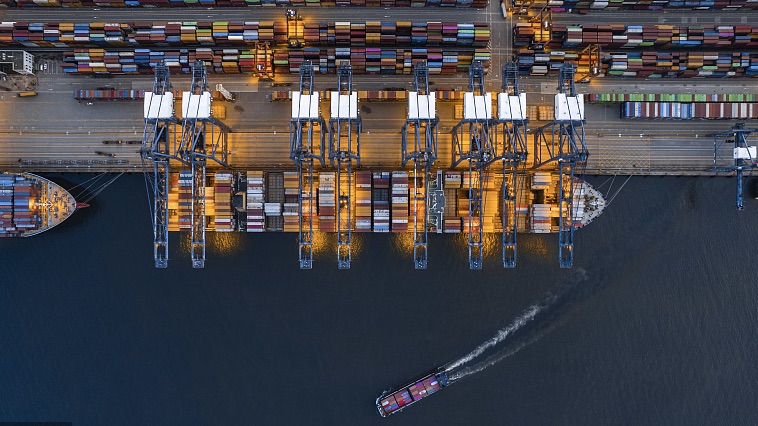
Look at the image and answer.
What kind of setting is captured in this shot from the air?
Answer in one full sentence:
It's a port.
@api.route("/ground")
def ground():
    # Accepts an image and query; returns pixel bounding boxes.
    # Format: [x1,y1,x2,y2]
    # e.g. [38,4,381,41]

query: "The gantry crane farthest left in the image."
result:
[135,61,196,268]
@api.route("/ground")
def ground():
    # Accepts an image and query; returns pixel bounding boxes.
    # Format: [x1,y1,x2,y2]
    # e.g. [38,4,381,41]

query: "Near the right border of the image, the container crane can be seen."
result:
[695,119,758,210]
